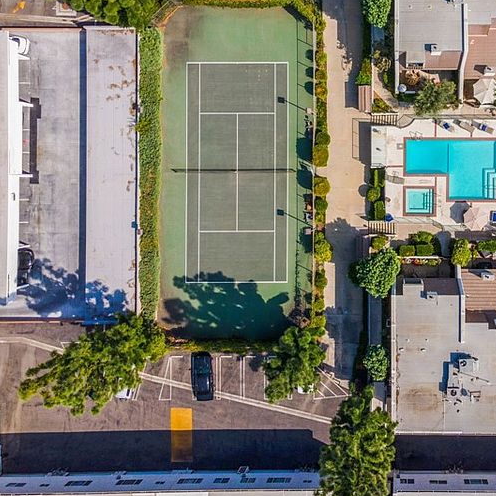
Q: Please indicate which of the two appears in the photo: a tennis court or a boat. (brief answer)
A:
tennis court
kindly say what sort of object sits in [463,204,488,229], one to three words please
umbrella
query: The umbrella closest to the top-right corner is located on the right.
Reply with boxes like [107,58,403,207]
[472,80,496,106]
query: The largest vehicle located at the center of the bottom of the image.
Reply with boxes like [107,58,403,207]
[189,353,215,400]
